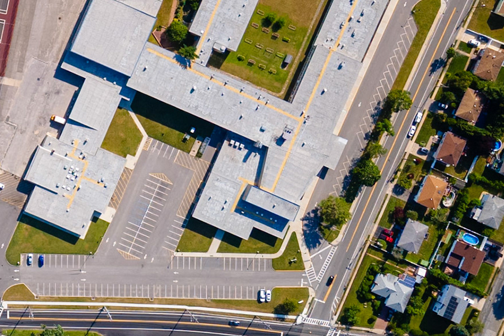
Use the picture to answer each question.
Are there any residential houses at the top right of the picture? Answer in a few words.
Yes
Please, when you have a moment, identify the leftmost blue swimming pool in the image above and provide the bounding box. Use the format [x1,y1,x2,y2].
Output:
[463,233,480,246]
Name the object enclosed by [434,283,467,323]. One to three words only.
house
